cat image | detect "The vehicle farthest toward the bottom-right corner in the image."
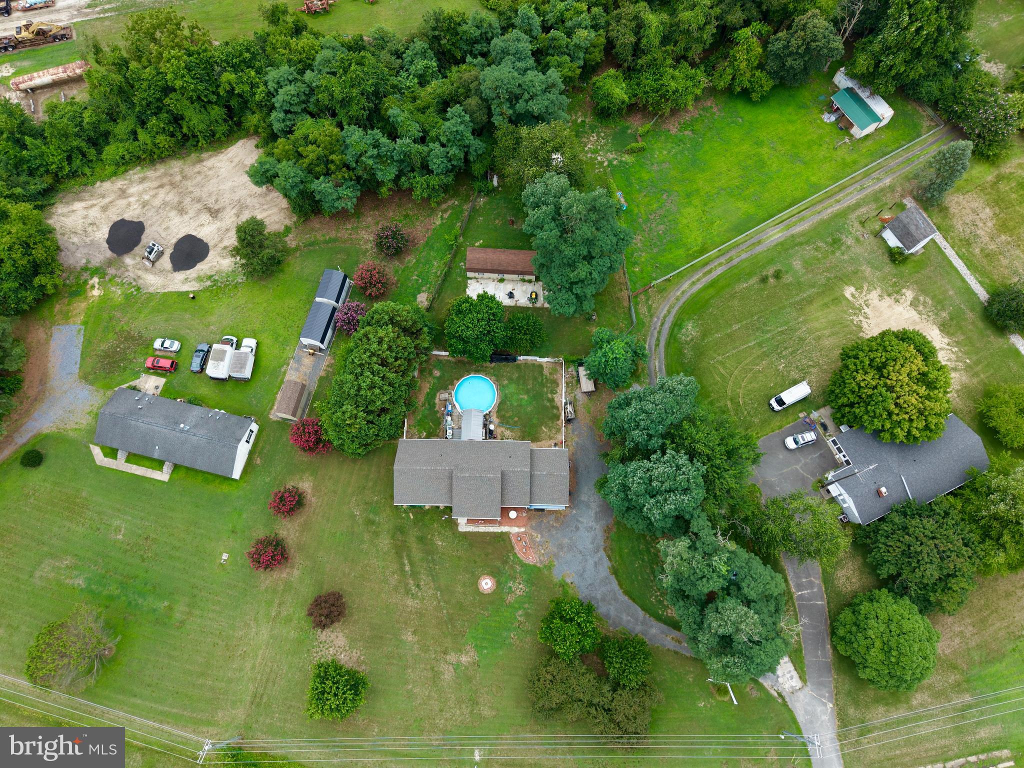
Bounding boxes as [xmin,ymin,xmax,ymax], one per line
[782,431,819,450]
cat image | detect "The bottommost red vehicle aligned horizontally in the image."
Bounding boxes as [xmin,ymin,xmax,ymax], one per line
[145,356,179,374]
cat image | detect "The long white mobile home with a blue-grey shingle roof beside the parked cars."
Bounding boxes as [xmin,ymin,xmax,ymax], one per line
[95,387,260,480]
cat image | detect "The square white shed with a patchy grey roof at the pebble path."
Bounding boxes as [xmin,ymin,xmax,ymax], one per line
[878,208,937,252]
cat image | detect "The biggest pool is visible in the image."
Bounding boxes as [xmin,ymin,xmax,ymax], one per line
[453,374,497,413]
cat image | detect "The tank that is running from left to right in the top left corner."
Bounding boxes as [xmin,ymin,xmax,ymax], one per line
[9,59,90,94]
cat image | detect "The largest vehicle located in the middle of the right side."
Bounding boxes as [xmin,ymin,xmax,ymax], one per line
[766,380,817,413]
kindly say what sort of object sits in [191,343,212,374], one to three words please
car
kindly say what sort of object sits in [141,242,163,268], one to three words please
work vehicle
